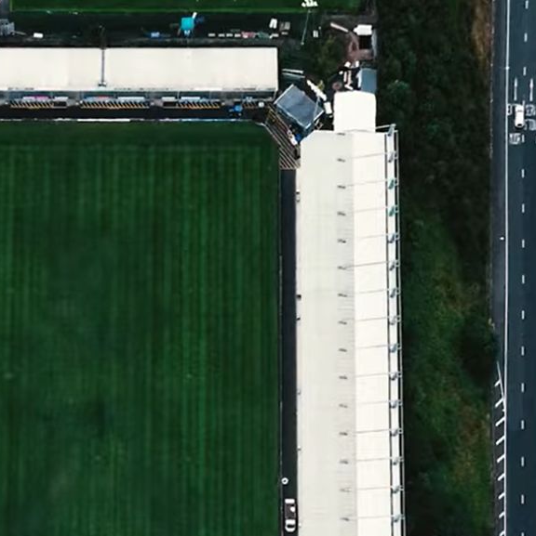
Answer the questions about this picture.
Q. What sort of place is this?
sports ground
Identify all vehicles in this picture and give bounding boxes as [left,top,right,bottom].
[353,25,374,34]
[513,101,524,127]
[284,500,295,532]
